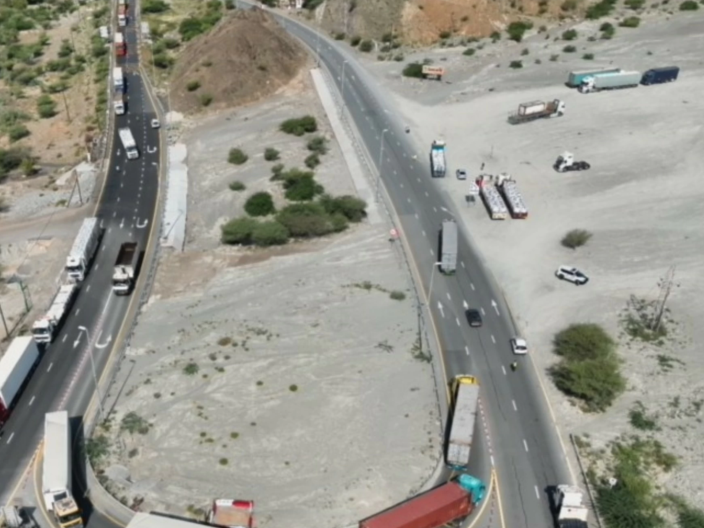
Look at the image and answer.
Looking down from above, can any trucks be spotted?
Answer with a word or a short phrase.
Yes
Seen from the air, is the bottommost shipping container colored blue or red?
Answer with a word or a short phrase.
red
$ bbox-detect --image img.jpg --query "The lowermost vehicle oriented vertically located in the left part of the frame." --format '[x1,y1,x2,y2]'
[42,411,84,528]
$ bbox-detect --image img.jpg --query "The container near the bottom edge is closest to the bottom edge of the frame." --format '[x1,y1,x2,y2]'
[361,481,469,528]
